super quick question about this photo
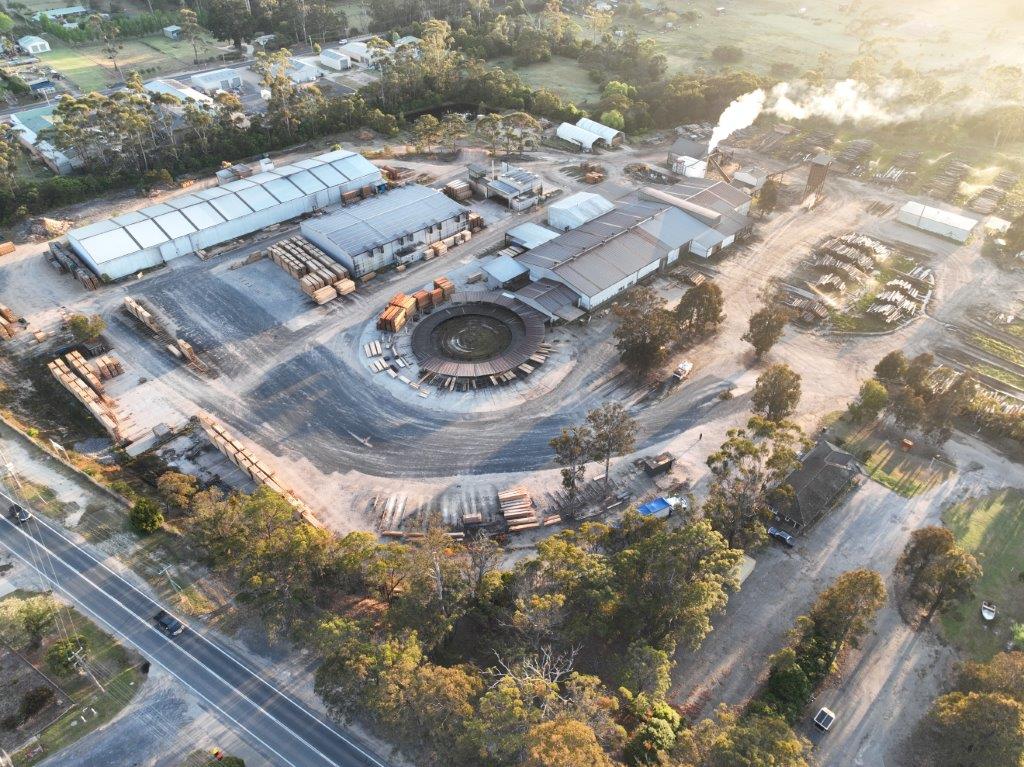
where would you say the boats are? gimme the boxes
[980,597,995,619]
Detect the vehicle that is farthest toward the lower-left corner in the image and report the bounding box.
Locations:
[150,609,184,637]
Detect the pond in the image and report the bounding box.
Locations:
[408,101,545,124]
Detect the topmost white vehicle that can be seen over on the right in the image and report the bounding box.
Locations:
[673,360,693,377]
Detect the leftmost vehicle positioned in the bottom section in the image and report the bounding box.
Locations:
[3,500,32,523]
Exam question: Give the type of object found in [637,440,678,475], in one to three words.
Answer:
shed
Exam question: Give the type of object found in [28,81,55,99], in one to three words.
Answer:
house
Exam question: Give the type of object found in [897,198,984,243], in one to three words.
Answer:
shed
